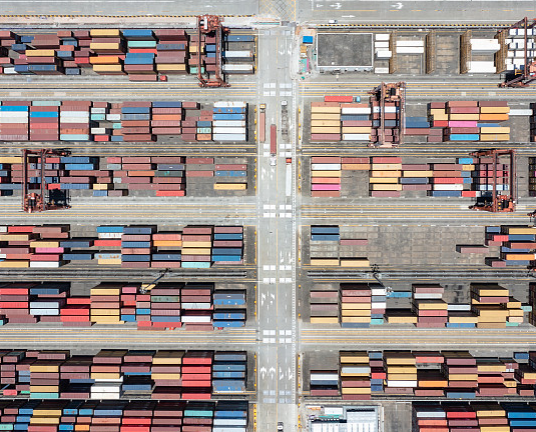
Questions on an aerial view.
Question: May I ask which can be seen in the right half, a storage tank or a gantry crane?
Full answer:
The one visible in the right half is a gantry crane.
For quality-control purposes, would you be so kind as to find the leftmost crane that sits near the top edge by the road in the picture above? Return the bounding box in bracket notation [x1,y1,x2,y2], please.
[195,13,230,86]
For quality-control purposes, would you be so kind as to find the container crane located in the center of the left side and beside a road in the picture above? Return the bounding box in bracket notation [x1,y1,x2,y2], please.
[23,149,72,214]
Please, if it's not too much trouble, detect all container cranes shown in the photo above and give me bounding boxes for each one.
[195,13,230,86]
[495,12,536,86]
[23,149,72,214]
[468,149,517,215]
[366,80,406,147]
